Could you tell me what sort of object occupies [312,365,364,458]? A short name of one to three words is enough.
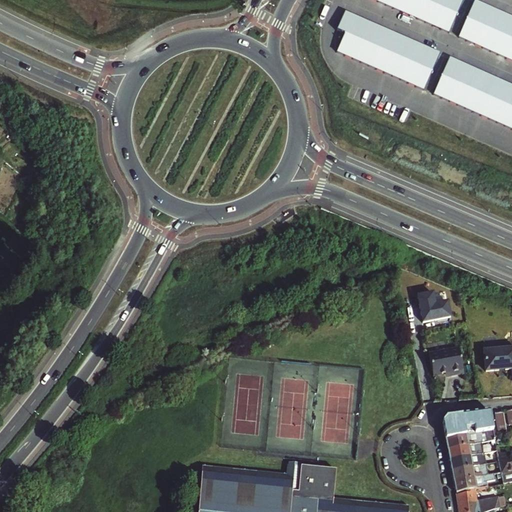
tennis court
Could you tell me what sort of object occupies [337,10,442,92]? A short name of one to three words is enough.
building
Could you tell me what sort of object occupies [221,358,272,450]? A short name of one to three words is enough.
tennis court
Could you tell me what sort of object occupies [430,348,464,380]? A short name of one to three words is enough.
house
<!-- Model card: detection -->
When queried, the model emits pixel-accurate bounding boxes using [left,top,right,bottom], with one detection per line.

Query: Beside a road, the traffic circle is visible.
[111,28,308,226]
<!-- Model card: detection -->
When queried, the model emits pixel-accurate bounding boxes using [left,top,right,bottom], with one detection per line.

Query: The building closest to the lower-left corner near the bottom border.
[198,465,287,512]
